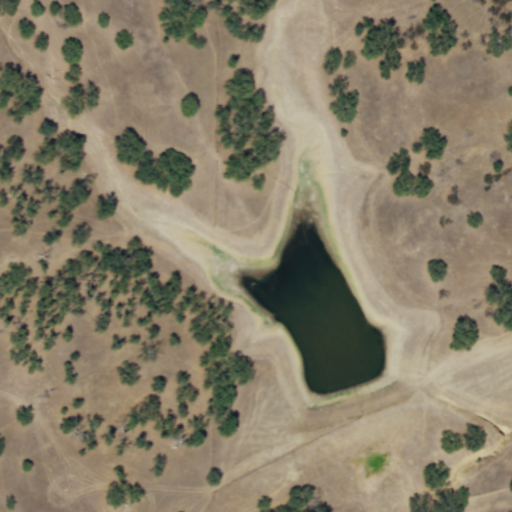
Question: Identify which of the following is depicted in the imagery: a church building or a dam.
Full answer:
This aerial view contains a dam.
